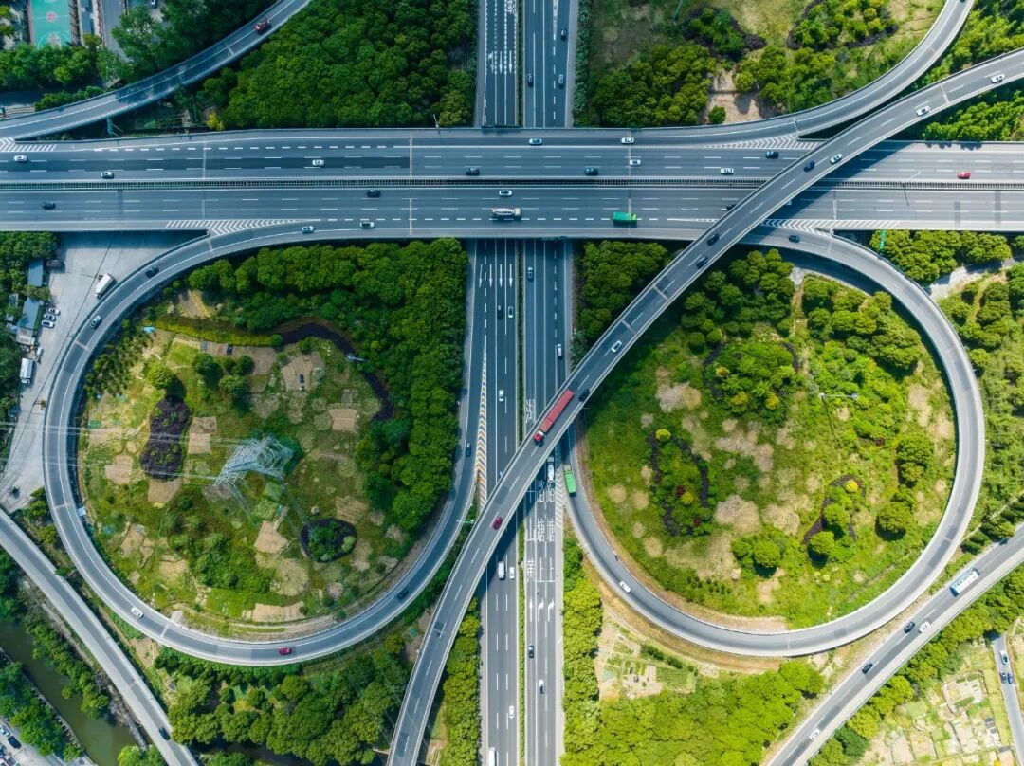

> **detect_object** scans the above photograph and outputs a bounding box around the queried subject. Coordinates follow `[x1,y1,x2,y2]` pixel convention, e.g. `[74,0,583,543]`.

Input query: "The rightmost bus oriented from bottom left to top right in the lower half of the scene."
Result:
[950,568,981,595]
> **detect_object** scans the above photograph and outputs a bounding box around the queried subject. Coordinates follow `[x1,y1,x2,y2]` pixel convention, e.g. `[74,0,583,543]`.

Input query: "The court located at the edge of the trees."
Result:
[27,0,71,46]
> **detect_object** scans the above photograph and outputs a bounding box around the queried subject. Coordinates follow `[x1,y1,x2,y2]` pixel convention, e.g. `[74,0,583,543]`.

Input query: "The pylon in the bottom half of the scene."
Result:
[217,434,297,492]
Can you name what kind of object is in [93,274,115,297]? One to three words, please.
truck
